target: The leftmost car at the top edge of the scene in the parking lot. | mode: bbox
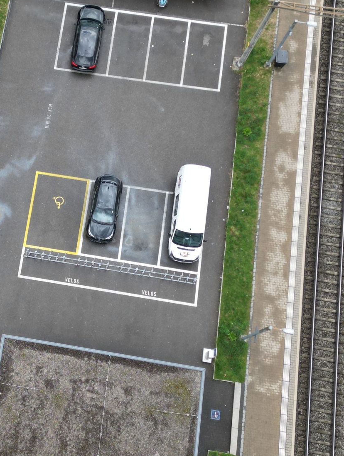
[71,5,112,74]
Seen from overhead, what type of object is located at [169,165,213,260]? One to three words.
van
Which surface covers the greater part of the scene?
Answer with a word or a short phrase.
paved ground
